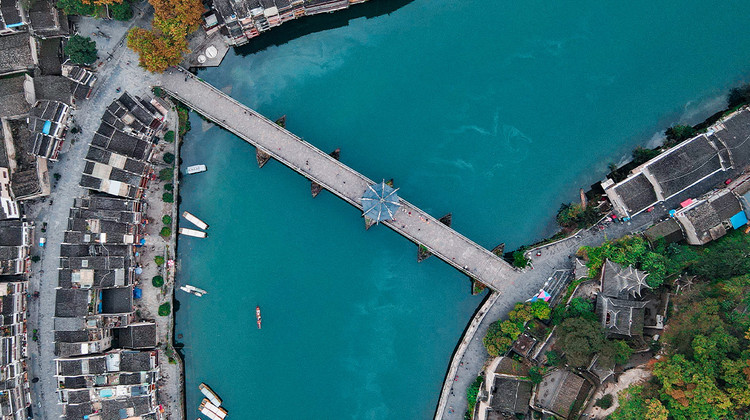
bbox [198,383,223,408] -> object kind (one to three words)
boat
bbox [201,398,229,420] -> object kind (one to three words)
boat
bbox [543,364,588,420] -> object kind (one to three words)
building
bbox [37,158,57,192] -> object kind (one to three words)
house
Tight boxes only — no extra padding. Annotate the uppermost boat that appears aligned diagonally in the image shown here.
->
[182,212,208,229]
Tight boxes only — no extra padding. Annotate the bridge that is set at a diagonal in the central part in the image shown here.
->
[157,64,516,293]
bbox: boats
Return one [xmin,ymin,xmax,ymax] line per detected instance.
[201,398,229,420]
[178,287,201,297]
[178,229,207,237]
[198,383,223,408]
[185,165,207,173]
[183,285,207,294]
[256,307,261,328]
[182,212,208,229]
[196,406,220,420]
